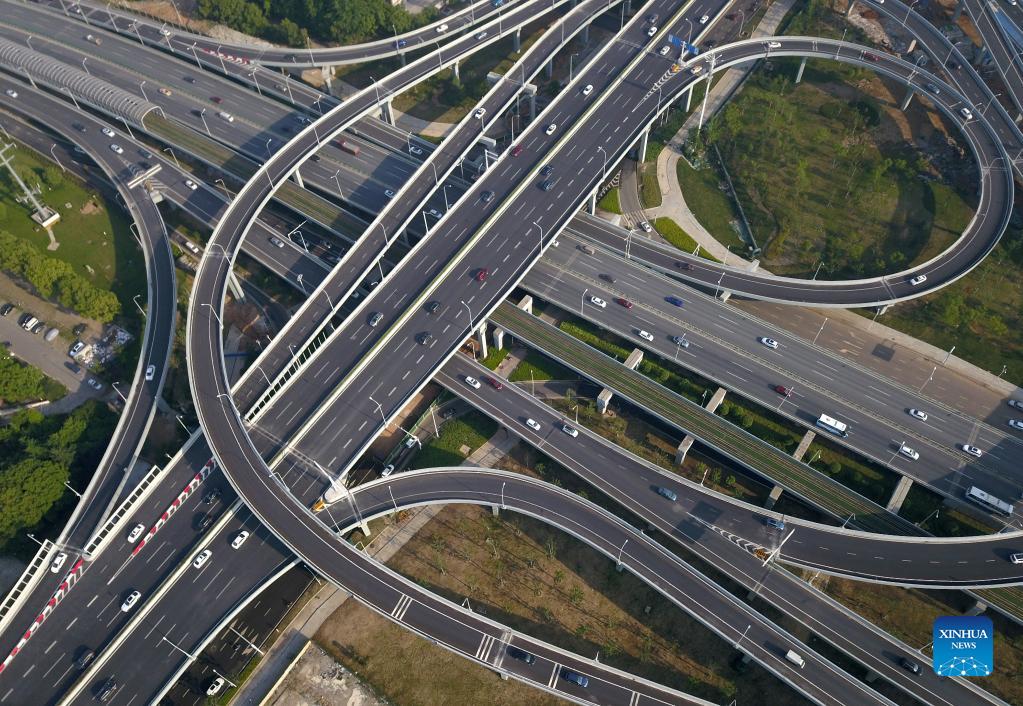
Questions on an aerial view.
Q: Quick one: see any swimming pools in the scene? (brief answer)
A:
No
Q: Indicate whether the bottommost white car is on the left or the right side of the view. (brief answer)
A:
left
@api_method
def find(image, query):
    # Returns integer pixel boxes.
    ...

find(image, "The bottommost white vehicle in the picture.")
[206,676,226,698]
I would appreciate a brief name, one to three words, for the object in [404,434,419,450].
vehicle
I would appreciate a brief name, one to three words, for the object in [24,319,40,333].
vehicle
